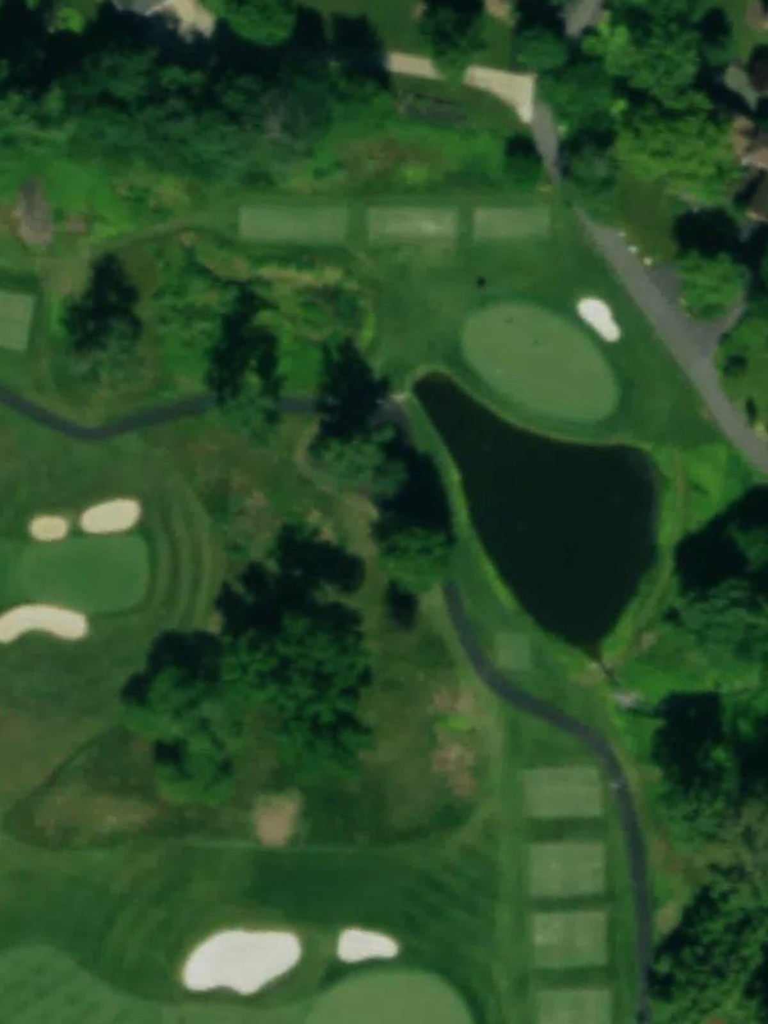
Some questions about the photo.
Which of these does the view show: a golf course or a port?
golf course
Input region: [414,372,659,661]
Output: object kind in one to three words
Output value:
pond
